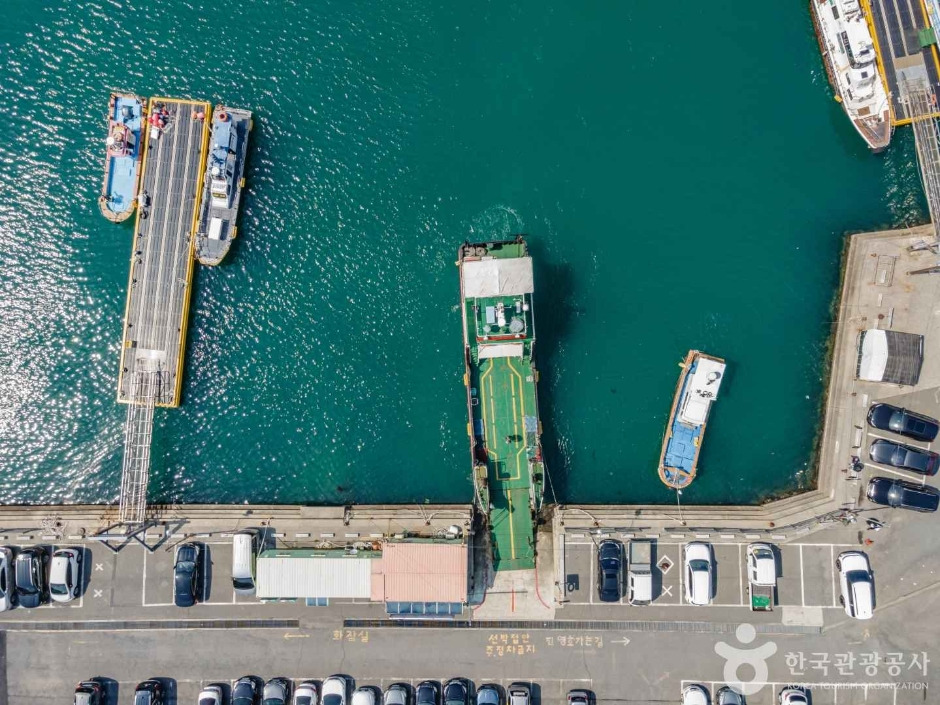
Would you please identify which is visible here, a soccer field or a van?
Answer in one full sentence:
Looking from above, you can make out a van.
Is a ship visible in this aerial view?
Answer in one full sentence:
Yes, there is a ship in the image.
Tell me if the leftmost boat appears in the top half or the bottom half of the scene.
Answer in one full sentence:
You can find the leftmost boat in the top half.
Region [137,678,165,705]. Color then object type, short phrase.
black car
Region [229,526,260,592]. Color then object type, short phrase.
white van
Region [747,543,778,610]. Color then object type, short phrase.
white truck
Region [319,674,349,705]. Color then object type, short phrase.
white car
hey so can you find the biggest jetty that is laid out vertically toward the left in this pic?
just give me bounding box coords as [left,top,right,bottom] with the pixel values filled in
[117,96,215,408]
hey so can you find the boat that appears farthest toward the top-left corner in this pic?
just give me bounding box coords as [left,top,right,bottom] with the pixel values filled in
[98,91,148,223]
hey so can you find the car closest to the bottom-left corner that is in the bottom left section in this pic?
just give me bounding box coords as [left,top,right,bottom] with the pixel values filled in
[75,678,106,705]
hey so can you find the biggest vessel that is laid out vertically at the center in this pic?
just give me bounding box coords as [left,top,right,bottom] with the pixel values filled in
[454,233,544,572]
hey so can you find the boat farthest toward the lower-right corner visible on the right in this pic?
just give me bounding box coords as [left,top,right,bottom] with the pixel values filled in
[656,350,725,493]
